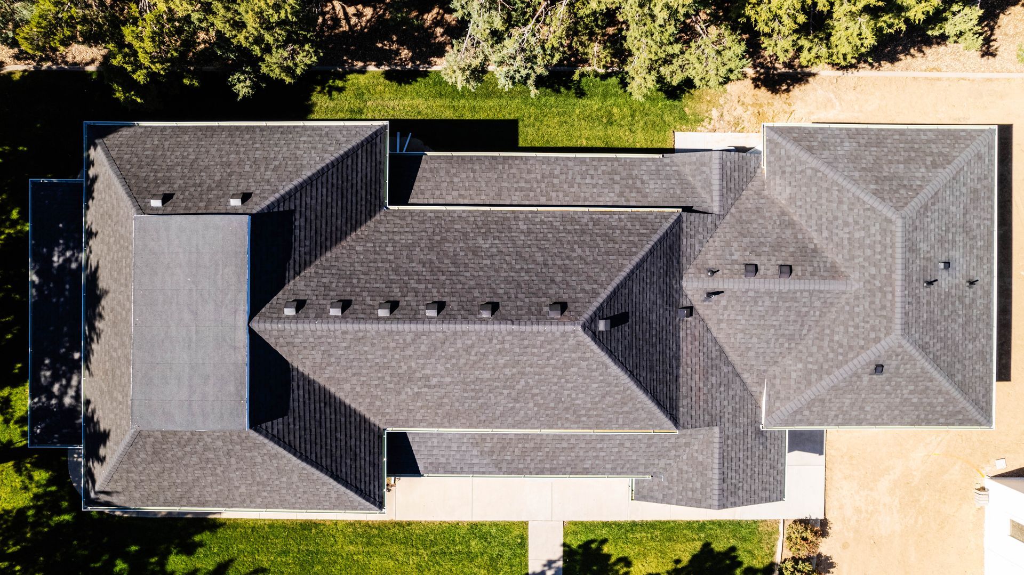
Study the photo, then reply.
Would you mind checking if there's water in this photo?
No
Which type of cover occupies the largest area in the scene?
buildings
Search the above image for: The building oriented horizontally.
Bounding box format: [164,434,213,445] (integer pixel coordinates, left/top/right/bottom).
[28,121,996,513]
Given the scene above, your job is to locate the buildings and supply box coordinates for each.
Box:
[28,121,996,513]
[969,476,1024,575]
